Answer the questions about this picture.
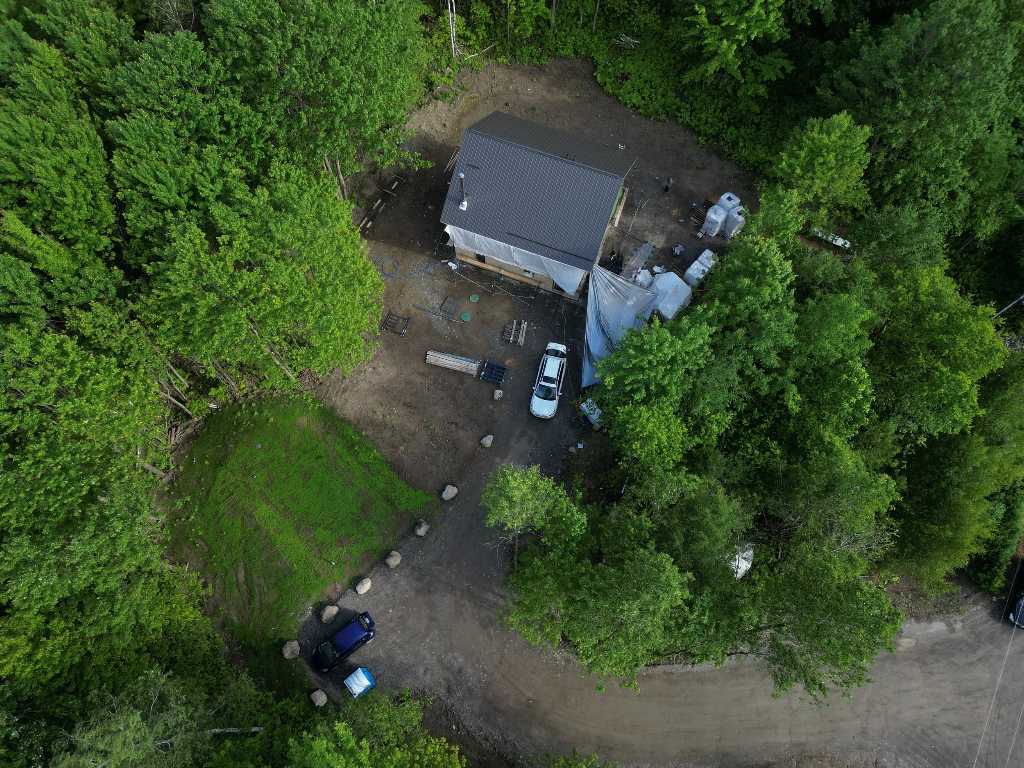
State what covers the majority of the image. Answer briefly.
trees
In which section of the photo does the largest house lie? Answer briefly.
top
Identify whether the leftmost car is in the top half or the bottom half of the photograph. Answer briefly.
bottom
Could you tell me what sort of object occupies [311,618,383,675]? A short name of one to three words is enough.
car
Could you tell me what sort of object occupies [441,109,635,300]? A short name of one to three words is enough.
house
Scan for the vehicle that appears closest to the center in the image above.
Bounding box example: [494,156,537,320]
[532,342,569,421]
